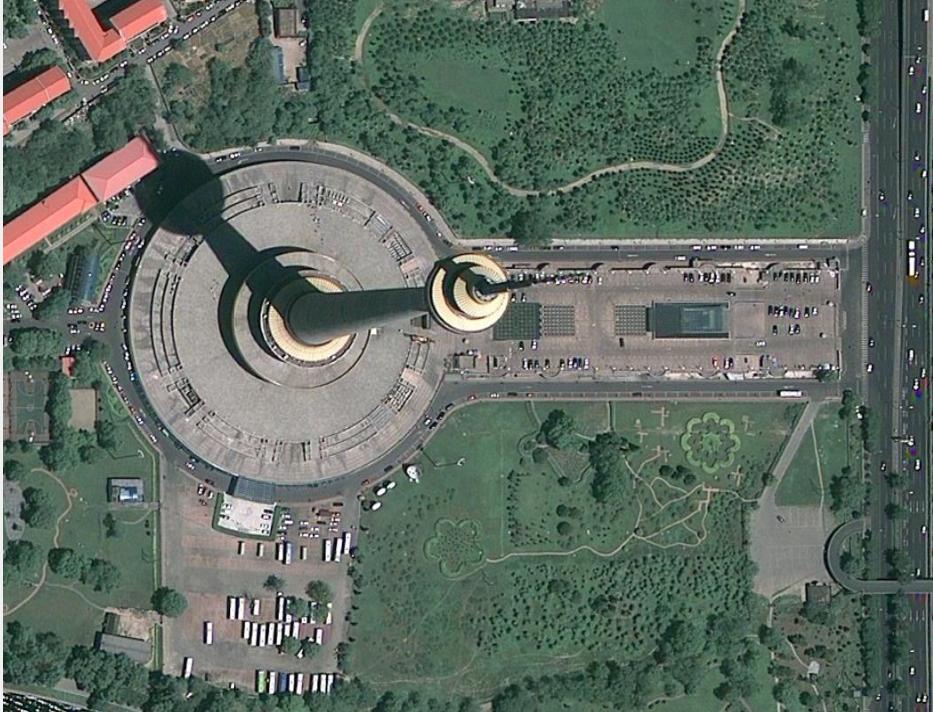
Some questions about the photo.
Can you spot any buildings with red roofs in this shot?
Yes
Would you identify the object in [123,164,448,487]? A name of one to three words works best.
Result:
building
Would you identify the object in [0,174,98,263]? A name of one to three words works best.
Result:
building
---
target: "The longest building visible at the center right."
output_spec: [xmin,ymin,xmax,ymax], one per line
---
[647,300,731,342]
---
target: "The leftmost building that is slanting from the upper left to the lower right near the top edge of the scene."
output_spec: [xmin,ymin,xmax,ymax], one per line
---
[56,0,126,62]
